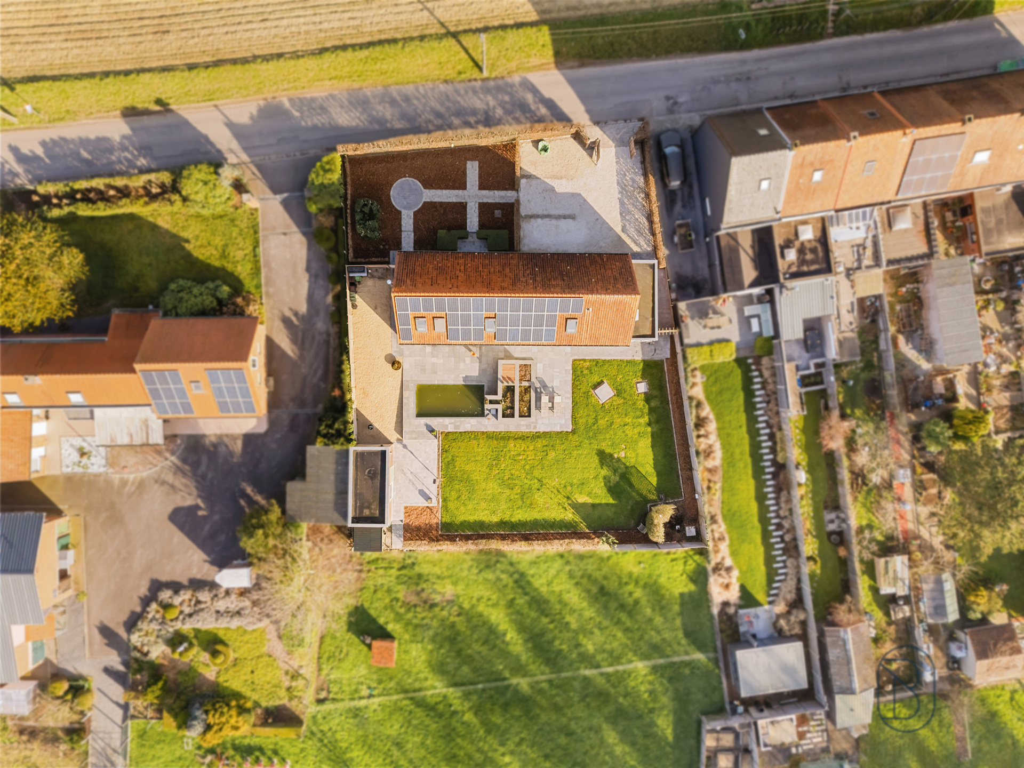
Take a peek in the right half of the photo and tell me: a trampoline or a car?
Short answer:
car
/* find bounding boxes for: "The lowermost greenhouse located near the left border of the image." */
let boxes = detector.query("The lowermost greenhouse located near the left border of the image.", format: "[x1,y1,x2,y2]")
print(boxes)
[0,677,47,715]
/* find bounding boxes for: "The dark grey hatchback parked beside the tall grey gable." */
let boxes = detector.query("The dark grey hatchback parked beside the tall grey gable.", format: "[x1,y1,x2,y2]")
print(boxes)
[658,136,683,188]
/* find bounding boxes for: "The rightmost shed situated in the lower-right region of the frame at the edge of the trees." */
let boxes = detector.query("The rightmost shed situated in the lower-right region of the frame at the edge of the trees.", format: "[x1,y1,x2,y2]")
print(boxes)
[949,606,1024,686]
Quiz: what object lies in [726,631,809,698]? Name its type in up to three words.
building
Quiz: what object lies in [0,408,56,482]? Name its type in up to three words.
house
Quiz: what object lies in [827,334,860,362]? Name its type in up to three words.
shed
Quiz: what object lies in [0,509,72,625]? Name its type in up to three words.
house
